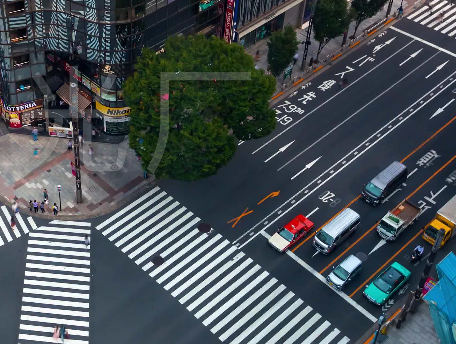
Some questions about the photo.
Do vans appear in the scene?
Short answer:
Yes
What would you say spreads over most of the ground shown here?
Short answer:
paved ground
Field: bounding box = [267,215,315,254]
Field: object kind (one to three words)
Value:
car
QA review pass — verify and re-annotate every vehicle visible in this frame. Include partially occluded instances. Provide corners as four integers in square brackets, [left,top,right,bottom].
[320,251,369,295]
[410,248,424,266]
[267,215,315,254]
[361,262,413,308]
[311,206,362,254]
[359,157,410,204]
[372,198,427,244]
[419,191,456,249]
